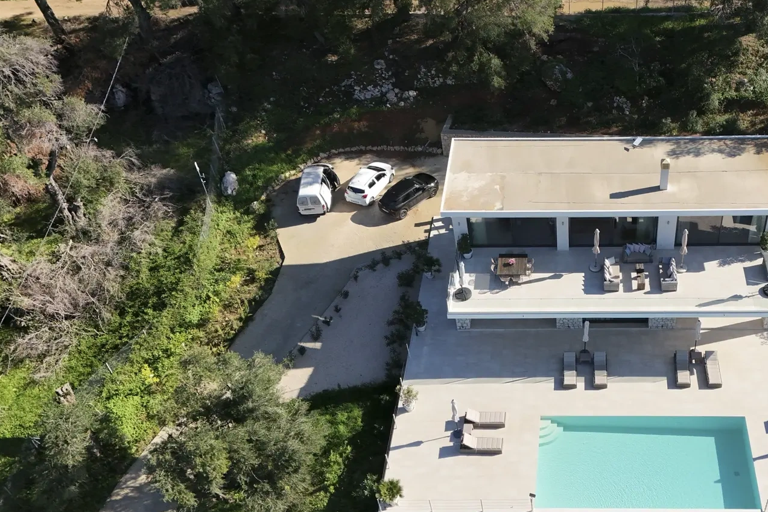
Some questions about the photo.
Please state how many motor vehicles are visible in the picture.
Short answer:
3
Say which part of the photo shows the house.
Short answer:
right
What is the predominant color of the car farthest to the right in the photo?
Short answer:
black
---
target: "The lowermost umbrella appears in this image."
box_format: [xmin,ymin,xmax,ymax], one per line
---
[450,399,463,439]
